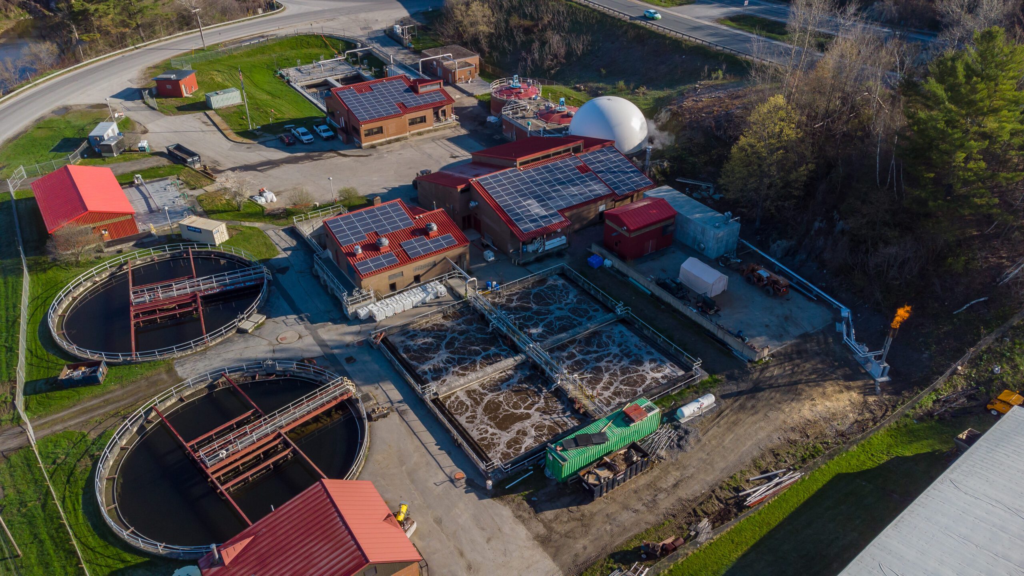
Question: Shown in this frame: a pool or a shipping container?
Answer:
shipping container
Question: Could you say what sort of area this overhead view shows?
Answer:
industrial area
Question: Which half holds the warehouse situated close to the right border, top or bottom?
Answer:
bottom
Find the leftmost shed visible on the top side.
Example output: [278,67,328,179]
[33,163,137,253]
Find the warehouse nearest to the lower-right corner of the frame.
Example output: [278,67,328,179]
[829,402,1024,576]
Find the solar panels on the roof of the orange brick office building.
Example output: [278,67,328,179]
[338,77,447,120]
